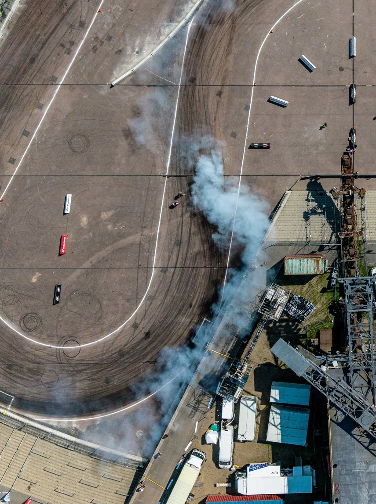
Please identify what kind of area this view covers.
sports ground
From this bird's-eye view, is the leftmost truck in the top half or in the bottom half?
bottom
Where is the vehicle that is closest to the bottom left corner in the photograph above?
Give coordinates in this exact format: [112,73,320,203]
[162,440,212,504]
